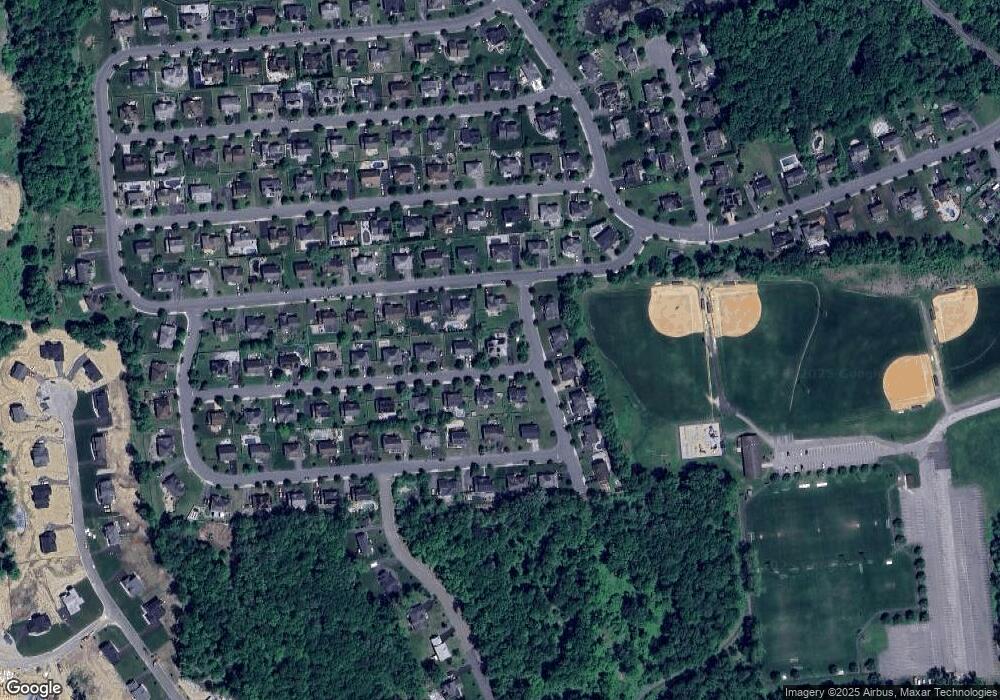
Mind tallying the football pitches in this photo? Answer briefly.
2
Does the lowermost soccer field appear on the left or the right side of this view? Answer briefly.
right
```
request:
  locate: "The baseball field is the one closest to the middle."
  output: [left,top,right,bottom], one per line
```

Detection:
[587,280,713,425]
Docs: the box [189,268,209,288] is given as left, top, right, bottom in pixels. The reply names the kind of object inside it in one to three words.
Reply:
house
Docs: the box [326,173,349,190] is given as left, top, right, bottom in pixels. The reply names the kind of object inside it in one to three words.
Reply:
house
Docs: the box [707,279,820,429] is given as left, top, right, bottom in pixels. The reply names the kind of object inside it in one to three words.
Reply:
baseball field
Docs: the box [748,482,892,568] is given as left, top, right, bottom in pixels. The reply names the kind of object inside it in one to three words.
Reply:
soccer field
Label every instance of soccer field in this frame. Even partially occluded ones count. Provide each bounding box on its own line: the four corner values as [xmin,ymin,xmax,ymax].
[748,482,892,568]
[758,551,915,672]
